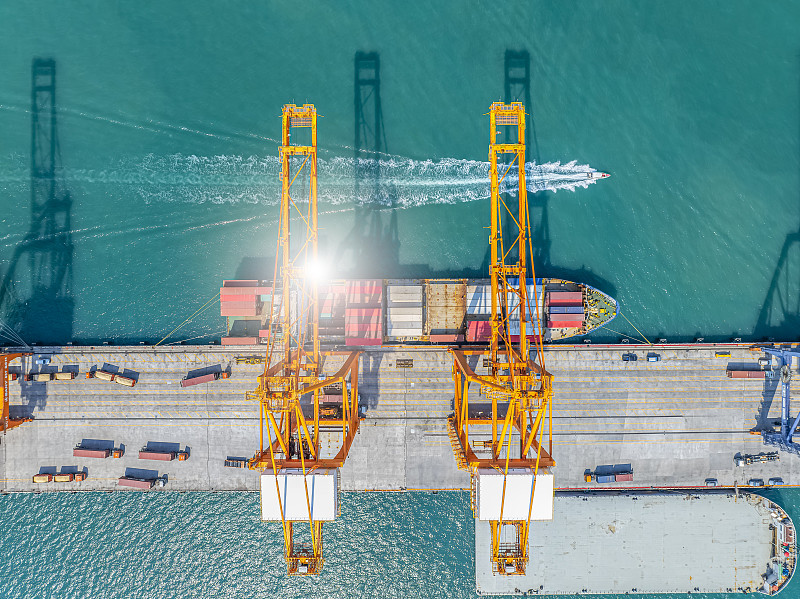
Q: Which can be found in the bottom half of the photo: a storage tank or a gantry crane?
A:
gantry crane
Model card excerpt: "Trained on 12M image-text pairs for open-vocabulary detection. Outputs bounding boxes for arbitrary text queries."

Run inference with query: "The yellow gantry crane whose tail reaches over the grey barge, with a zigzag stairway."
[438,94,558,572]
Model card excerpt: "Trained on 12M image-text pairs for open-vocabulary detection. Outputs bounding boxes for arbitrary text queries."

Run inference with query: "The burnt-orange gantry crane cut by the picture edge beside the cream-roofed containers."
[0,351,38,433]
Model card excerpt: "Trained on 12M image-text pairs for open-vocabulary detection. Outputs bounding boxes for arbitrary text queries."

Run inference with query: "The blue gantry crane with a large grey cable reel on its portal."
[749,347,800,456]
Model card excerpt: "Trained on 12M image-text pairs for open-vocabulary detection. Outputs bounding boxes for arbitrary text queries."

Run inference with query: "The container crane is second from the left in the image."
[247,95,370,574]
